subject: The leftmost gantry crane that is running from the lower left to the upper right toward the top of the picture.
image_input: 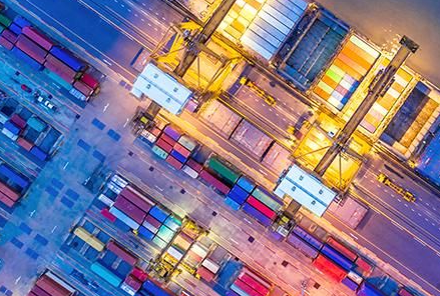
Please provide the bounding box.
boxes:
[127,0,259,137]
